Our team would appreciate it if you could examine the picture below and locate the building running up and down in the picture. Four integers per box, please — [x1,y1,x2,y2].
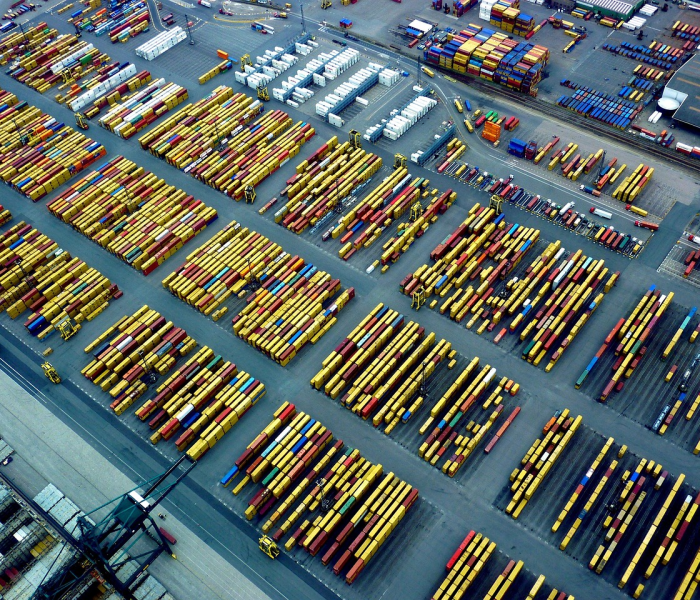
[662,53,700,139]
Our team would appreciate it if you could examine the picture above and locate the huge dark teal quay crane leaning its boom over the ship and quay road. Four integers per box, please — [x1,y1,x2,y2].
[20,454,198,600]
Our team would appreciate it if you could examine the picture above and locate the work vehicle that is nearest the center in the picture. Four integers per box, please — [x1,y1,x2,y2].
[410,287,426,310]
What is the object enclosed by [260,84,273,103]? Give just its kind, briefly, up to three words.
vehicle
